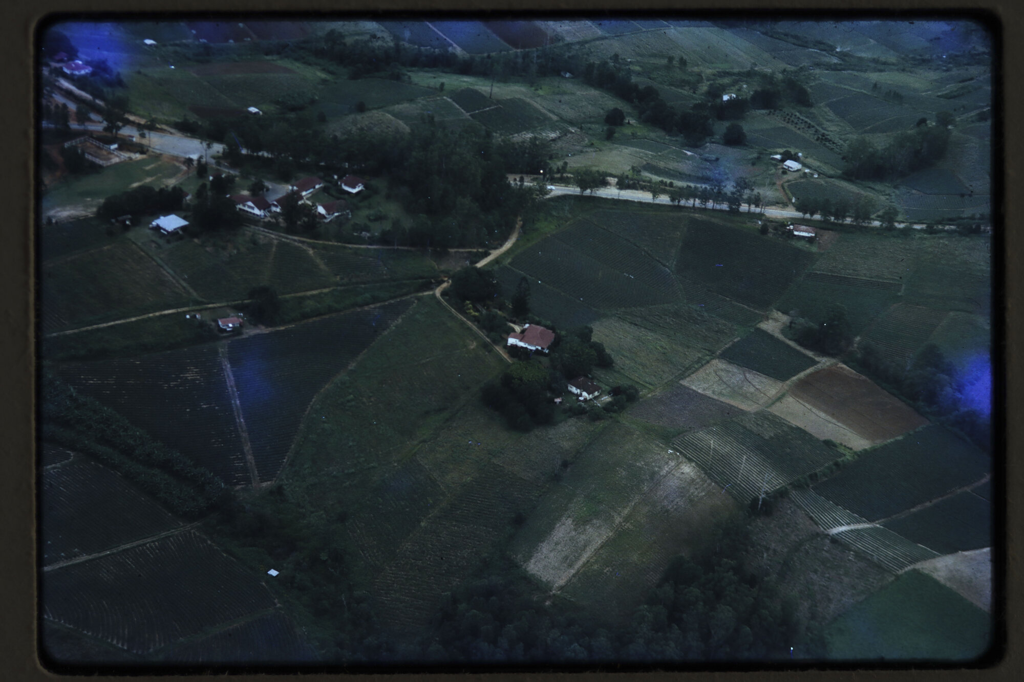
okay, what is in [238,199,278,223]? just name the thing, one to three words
building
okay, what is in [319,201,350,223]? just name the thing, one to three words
building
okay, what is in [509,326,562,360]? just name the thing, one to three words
house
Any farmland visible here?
Yes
